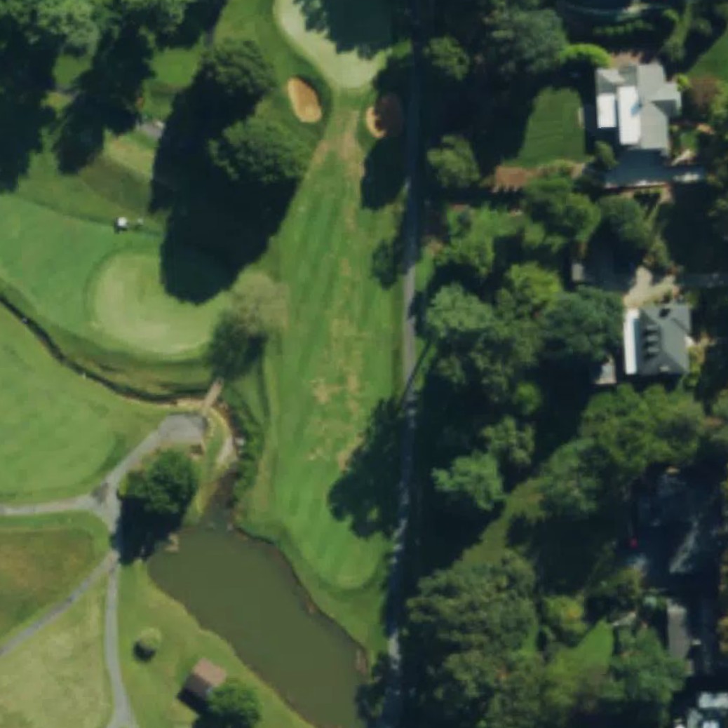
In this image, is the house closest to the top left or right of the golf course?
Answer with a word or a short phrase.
to the right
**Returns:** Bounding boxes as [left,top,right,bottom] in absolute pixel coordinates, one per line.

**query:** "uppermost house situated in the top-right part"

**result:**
[596,62,683,150]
